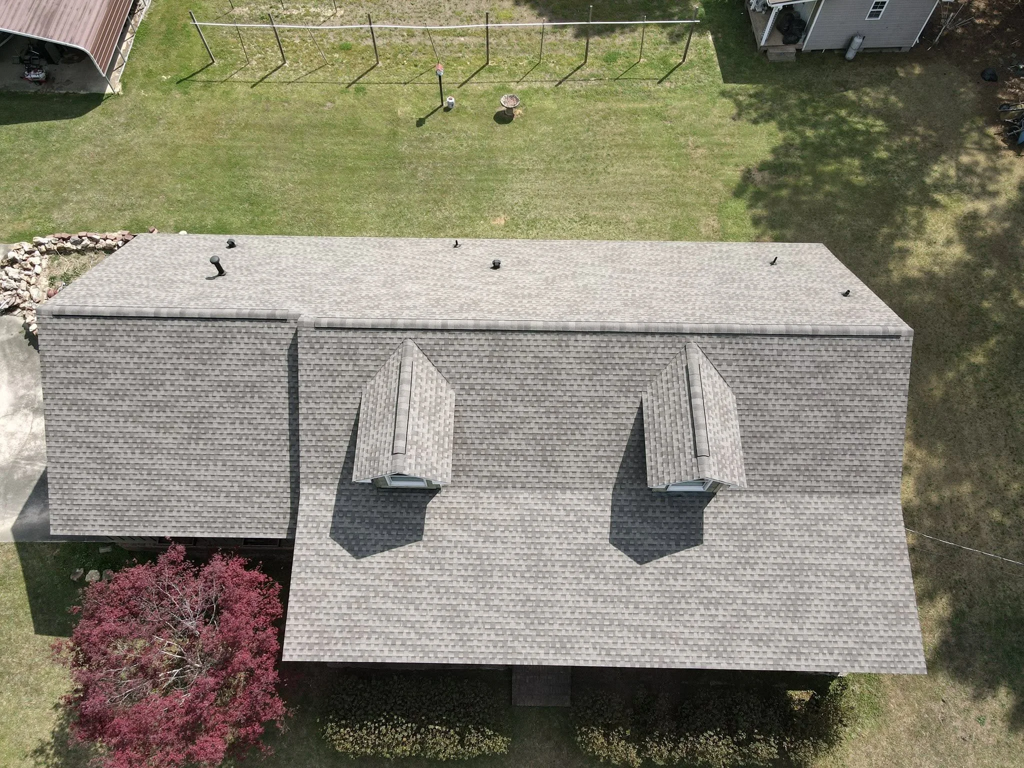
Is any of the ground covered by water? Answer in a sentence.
No, no water is visible.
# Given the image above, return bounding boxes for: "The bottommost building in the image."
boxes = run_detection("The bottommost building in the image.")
[37,234,927,708]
